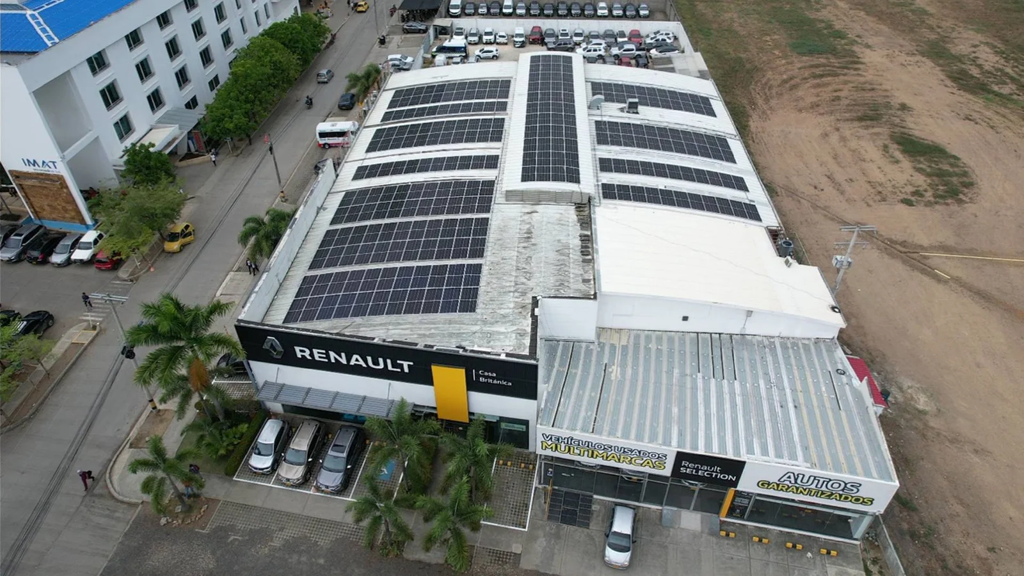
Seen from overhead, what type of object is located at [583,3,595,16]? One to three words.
vehicle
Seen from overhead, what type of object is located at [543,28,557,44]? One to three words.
car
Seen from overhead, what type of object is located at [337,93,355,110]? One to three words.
car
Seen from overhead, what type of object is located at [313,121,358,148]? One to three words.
vehicle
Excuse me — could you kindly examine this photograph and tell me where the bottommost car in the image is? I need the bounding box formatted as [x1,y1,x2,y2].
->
[603,499,639,568]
